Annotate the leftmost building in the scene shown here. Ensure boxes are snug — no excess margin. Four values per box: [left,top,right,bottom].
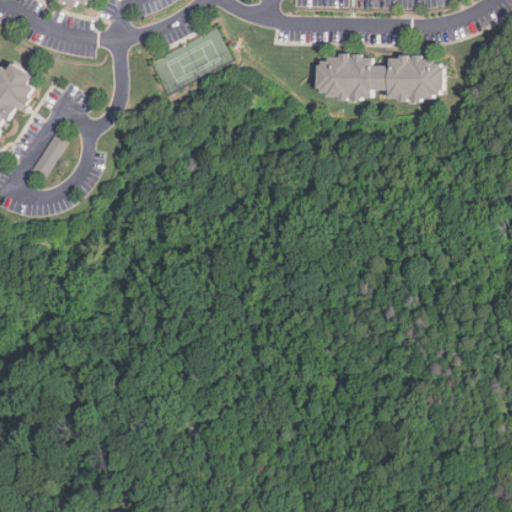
[0,56,36,128]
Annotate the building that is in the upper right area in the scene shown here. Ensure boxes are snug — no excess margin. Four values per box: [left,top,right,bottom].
[317,54,448,104]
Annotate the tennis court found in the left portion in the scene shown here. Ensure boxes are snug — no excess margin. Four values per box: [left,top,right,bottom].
[154,30,233,94]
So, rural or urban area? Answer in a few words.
rural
